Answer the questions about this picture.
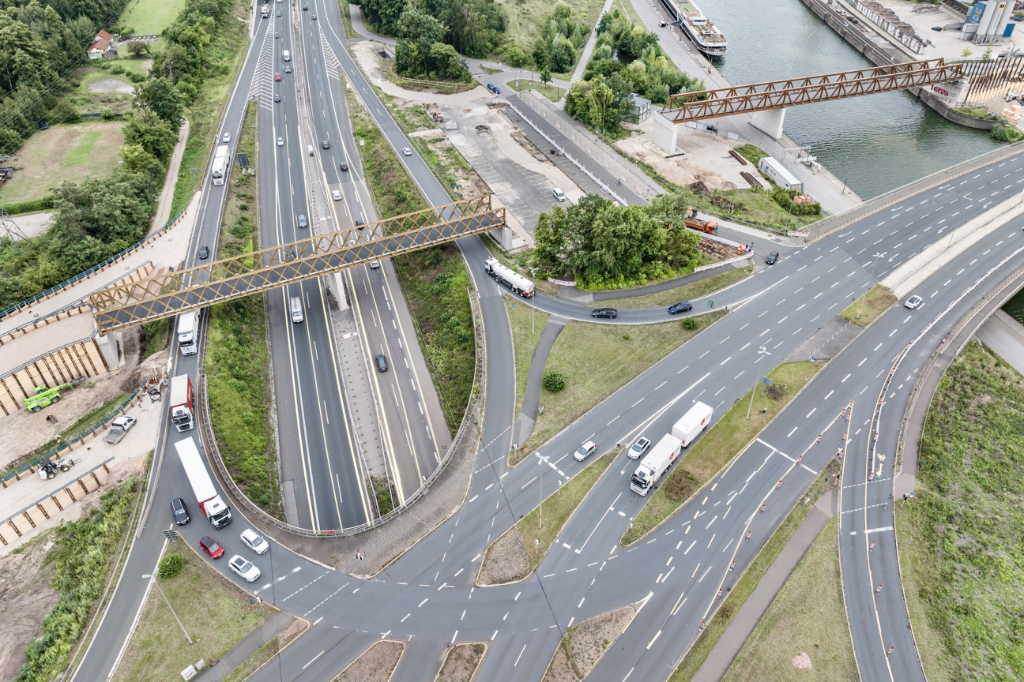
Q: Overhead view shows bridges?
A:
Yes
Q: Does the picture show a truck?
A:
Yes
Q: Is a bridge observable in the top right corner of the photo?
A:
Yes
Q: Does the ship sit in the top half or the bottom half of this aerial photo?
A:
top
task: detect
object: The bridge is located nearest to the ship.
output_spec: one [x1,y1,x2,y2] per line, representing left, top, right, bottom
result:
[659,53,969,125]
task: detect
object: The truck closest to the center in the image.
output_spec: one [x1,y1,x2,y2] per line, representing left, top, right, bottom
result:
[481,260,538,303]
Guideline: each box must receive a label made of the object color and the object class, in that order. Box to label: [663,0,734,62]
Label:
white ship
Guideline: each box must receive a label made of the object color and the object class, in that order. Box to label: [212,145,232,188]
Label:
white vehicle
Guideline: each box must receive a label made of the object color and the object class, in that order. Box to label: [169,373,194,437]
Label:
white truck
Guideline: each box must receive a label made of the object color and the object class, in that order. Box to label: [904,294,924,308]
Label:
white car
